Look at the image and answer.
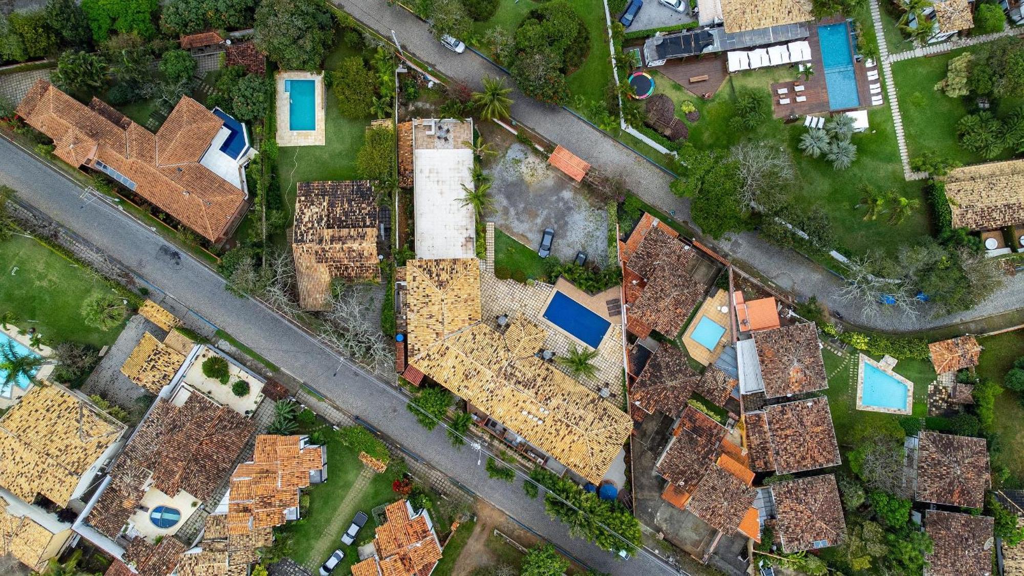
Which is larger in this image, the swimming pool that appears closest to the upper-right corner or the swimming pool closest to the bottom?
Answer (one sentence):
Of the two, the swimming pool that appears closest to the upper-right corner is larger and the swimming pool closest to the bottom is the smaller one.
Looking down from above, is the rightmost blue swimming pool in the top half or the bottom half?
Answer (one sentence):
Seen from above, the rightmost blue swimming pool lies in the bottom half of the view.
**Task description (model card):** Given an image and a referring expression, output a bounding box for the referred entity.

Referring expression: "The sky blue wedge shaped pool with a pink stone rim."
[862,361,908,411]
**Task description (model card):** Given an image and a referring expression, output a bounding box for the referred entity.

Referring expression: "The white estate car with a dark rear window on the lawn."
[321,548,346,576]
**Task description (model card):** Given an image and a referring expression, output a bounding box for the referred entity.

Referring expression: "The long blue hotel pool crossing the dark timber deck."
[818,22,861,111]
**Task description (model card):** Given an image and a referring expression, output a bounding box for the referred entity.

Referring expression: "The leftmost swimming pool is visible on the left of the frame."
[0,328,42,401]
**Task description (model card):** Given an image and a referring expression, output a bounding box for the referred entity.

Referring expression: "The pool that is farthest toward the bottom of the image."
[150,505,183,530]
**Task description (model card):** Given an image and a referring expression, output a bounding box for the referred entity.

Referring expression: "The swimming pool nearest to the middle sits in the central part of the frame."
[541,288,613,350]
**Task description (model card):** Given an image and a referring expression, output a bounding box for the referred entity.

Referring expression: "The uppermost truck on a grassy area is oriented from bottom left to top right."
[342,510,368,544]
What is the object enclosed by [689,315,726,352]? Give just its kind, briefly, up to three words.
swimming pool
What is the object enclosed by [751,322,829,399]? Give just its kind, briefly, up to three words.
house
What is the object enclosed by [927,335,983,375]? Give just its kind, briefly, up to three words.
shed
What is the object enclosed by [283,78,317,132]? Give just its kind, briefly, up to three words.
swimming pool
